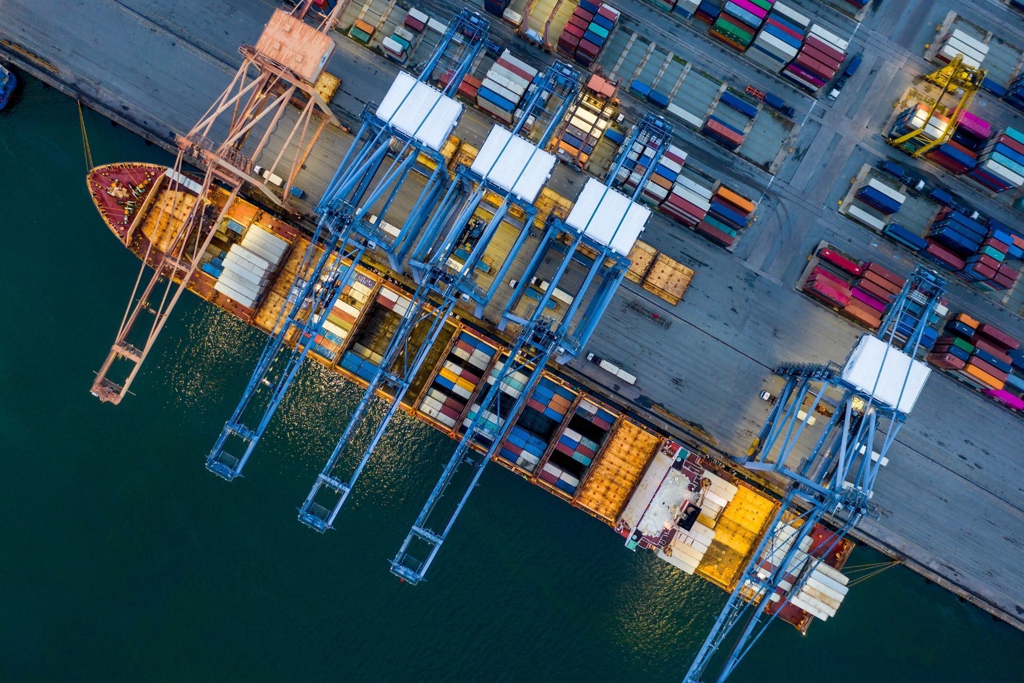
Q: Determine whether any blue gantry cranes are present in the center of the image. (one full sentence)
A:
Yes, a blue gantry crane can be seen in the center of the image.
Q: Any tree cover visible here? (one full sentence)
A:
No, the picture contains no tree cover.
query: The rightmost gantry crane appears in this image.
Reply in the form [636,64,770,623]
[885,52,993,160]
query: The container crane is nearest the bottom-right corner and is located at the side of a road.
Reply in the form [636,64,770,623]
[680,263,954,683]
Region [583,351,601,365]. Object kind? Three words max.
vehicle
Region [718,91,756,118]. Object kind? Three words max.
shipping container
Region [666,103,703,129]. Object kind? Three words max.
shipping container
